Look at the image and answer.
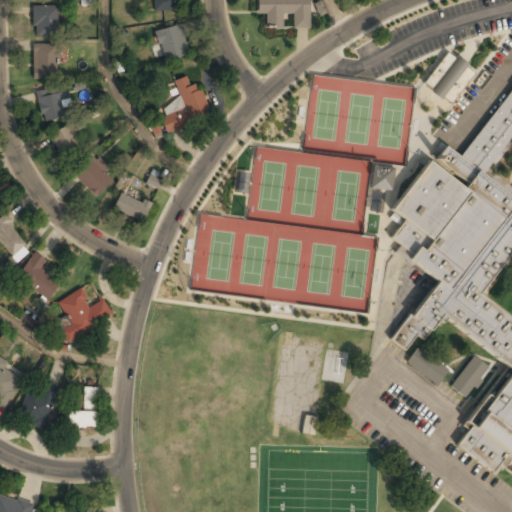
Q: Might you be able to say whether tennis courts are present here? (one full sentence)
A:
Yes, there's a tennis court down there.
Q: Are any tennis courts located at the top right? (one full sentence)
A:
Yes, looking at the top right, one can make out a tennis court.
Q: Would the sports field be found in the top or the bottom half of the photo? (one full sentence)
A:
The bottom half of the photo is where the sports field is.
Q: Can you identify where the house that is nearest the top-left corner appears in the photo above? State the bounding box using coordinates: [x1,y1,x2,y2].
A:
[34,5,58,36]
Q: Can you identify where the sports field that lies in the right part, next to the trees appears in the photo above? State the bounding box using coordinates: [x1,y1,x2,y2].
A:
[258,446,378,512]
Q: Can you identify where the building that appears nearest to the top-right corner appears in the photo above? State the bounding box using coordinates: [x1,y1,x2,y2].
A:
[424,52,476,104]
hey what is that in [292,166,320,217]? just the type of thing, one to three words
tennis court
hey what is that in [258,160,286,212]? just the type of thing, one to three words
tennis court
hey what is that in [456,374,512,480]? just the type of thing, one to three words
building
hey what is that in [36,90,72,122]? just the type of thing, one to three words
house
